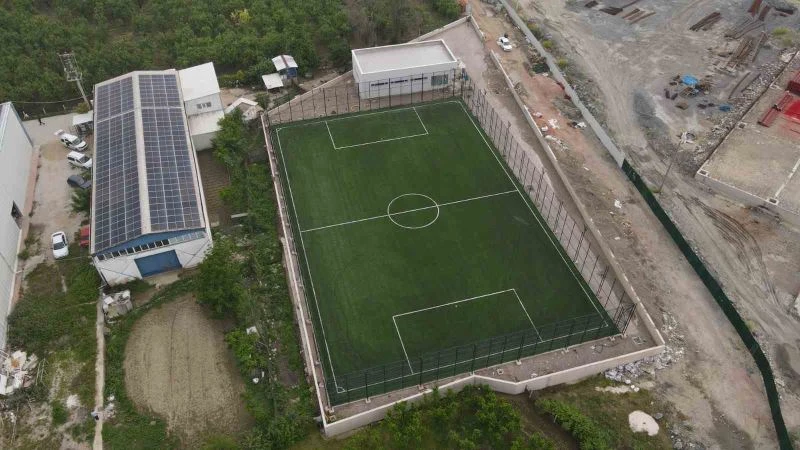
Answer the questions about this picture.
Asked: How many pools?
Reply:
0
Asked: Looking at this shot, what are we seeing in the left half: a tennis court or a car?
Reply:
car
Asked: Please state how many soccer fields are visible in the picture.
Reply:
one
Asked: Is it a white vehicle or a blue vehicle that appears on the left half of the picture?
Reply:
white vehicle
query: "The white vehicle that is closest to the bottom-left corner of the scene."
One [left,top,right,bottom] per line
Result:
[48,233,68,259]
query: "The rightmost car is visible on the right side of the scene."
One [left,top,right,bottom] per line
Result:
[496,38,512,50]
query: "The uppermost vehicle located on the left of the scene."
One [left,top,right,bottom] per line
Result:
[52,128,88,149]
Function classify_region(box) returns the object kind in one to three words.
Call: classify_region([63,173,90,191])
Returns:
car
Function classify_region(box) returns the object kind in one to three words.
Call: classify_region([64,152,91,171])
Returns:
vehicle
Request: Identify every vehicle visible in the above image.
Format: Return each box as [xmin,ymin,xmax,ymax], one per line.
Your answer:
[52,128,88,149]
[64,152,91,171]
[77,224,89,248]
[48,233,68,259]
[63,173,90,191]
[496,38,512,50]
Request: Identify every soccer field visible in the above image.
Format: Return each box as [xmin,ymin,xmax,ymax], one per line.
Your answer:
[270,94,626,410]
